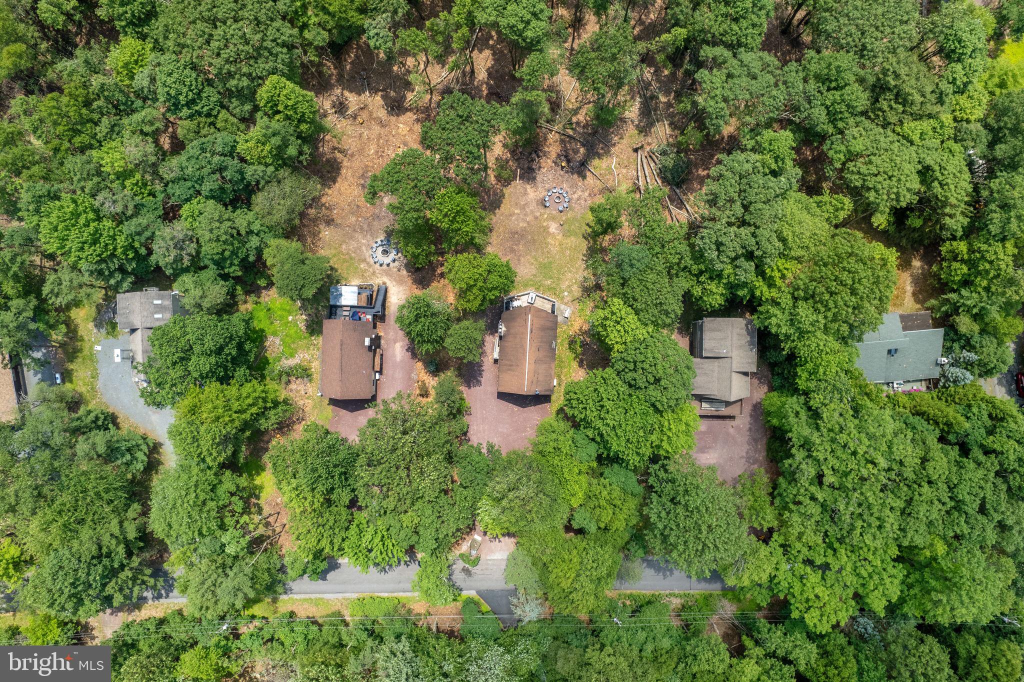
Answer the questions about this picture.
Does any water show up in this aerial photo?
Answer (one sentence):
No, no water is visible.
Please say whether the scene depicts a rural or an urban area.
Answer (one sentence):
It looks rural.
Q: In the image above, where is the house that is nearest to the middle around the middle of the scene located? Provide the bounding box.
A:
[497,304,558,396]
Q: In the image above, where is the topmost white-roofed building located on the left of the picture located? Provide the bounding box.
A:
[330,286,360,304]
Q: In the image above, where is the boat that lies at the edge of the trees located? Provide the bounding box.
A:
[469,534,485,557]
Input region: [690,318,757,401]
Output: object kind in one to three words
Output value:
house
